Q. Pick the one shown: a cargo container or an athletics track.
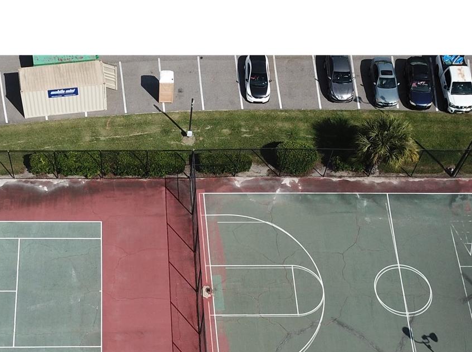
cargo container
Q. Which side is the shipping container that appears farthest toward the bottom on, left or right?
left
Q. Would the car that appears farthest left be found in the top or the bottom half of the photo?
top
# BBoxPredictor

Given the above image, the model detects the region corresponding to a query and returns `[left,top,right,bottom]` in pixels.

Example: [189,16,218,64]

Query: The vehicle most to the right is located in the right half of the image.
[433,52,472,112]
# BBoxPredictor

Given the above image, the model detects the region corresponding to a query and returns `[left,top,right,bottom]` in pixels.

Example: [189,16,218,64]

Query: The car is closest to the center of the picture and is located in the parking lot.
[244,52,274,102]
